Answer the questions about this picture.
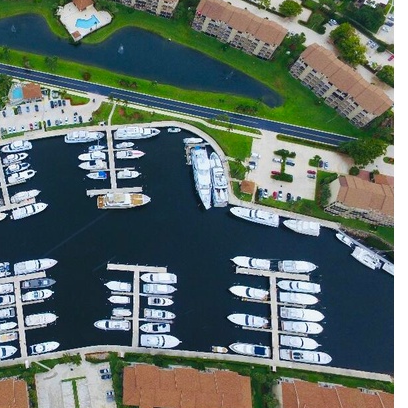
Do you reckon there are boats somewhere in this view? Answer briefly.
Yes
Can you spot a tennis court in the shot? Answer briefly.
No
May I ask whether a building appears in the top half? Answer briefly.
Yes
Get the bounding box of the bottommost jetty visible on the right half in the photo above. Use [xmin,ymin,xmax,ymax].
[236,268,311,359]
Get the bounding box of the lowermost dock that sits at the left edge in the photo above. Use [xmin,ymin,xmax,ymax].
[0,271,47,358]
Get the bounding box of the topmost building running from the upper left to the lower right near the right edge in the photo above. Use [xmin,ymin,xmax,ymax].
[290,42,392,127]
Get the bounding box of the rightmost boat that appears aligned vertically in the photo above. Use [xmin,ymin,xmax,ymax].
[209,152,228,210]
